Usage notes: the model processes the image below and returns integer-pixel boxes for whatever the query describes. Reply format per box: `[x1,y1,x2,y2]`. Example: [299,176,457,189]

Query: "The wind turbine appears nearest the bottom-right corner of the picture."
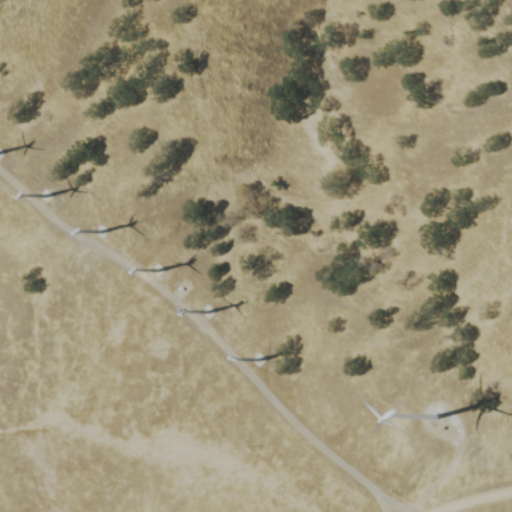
[356,390,442,447]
